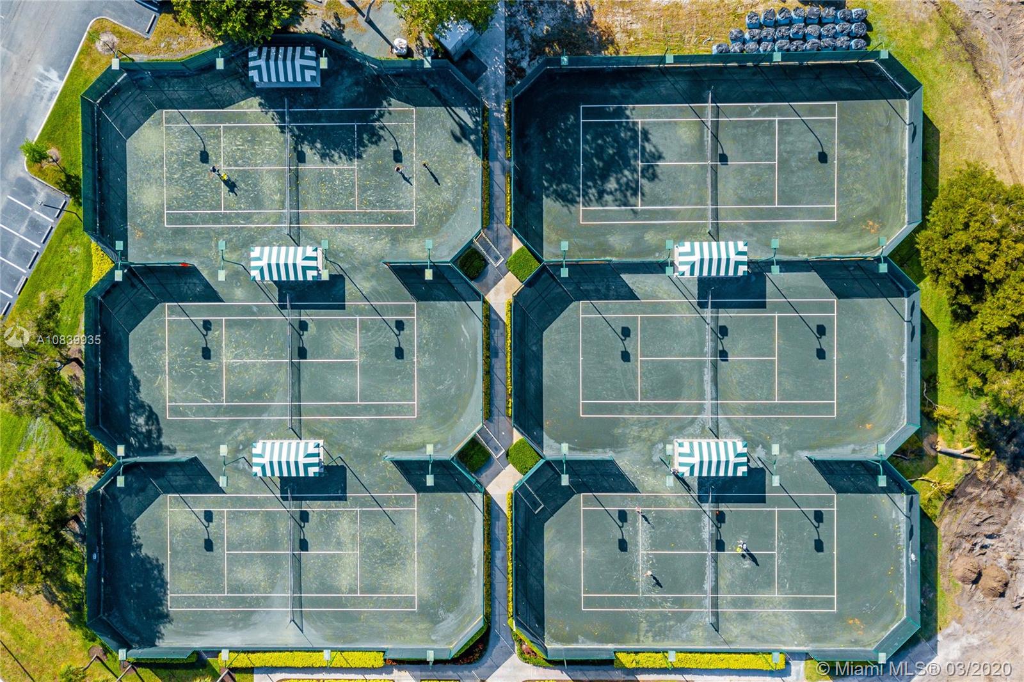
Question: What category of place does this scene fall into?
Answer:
sports ground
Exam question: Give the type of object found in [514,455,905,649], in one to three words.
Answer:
tennis court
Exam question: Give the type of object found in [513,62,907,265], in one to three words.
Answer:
tennis court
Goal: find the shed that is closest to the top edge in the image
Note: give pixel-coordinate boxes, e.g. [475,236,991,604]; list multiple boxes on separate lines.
[420,1,483,67]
